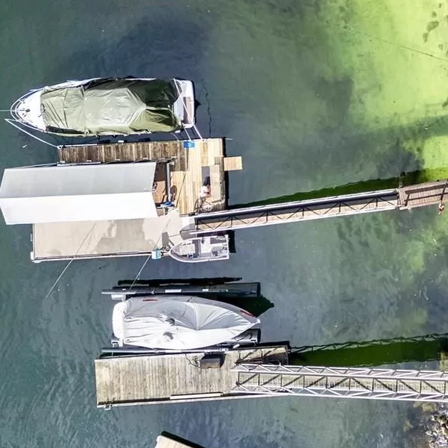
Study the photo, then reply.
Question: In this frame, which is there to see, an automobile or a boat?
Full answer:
I can see a boat in this picture.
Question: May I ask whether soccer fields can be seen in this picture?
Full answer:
No, the photo shows no soccer field.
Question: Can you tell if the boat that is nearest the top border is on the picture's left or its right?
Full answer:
You can find the boat that is nearest the top border on the left side of the picture.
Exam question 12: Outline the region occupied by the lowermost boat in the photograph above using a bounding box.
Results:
[102,301,253,356]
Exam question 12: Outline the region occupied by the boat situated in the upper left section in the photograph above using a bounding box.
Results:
[0,78,200,141]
